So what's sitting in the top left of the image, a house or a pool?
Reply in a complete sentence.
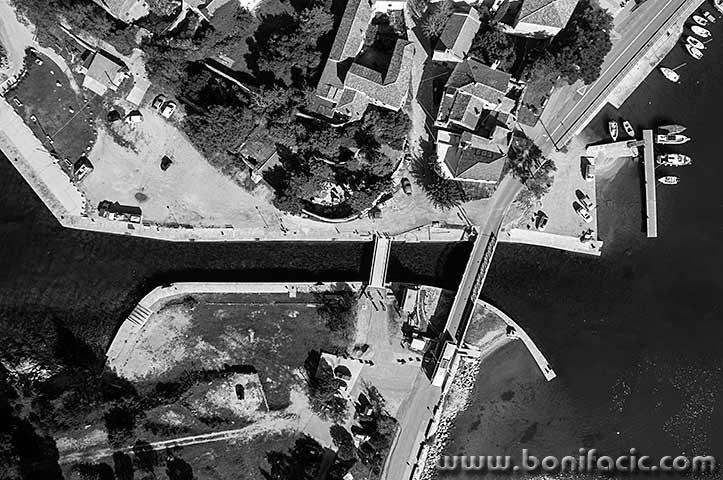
There is a house in the top left of the image.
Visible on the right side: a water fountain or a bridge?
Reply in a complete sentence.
You can see a bridge on the right side.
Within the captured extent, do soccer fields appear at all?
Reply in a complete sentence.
No, the scene contains no soccer field.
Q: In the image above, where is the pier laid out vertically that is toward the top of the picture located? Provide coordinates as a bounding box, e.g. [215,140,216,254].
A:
[640,130,657,237]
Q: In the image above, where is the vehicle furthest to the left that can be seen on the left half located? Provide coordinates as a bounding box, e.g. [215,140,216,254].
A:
[70,164,93,182]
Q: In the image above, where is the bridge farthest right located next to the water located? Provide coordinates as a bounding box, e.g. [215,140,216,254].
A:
[438,213,503,350]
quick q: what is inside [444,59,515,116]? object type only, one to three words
house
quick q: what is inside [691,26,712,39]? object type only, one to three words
boat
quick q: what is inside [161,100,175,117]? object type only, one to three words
car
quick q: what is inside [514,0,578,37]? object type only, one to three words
house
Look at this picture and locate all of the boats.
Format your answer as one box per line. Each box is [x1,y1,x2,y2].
[691,26,712,39]
[708,0,723,16]
[656,153,692,166]
[622,120,633,136]
[659,176,681,184]
[685,44,704,62]
[659,66,681,83]
[686,35,705,52]
[609,119,618,141]
[658,125,687,133]
[655,134,691,143]
[691,16,710,28]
